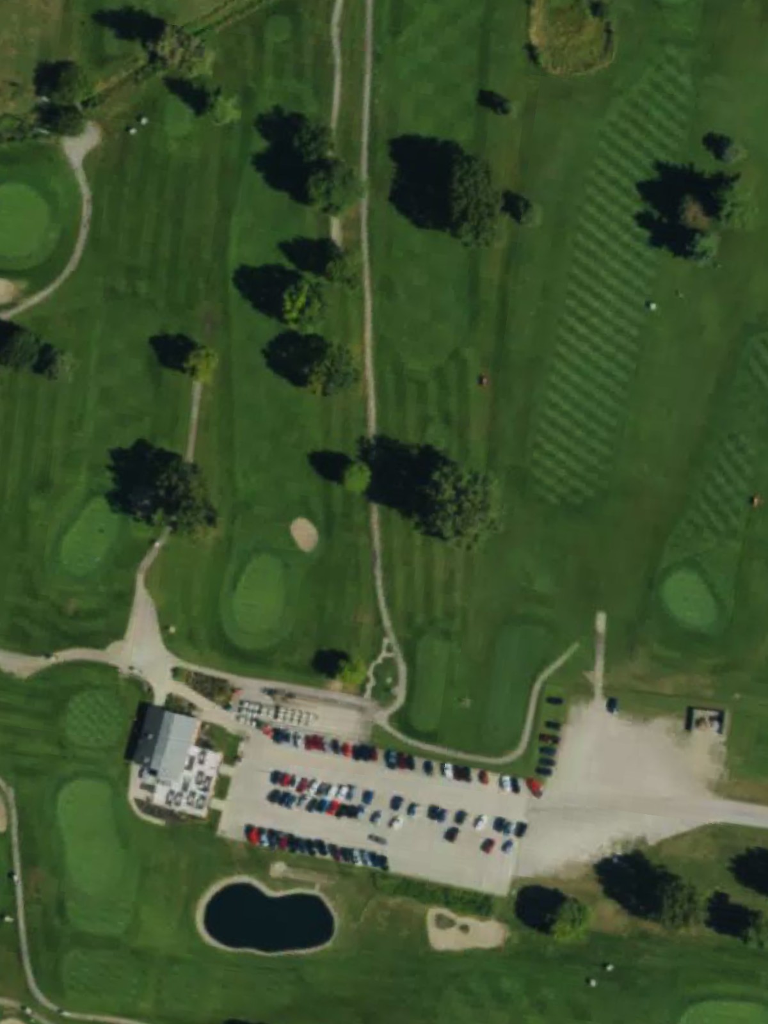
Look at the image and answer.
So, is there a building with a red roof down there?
No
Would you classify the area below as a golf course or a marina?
golf course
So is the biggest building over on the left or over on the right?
left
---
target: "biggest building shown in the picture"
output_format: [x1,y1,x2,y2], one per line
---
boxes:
[133,705,200,782]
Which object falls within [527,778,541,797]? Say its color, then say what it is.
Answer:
red vehicle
